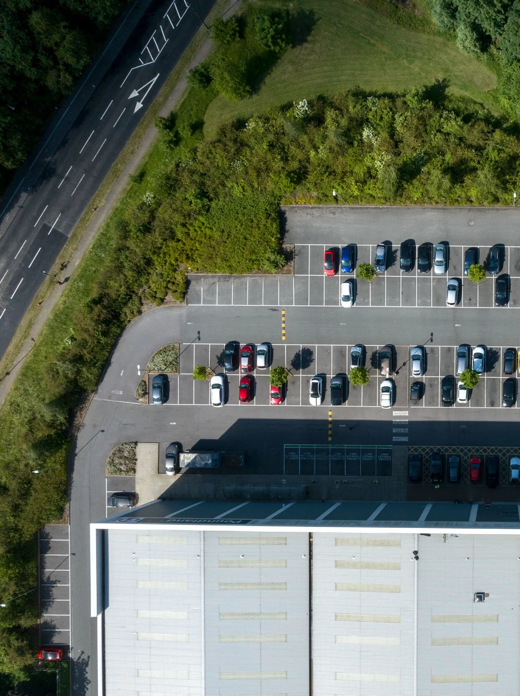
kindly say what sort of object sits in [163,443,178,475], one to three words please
car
